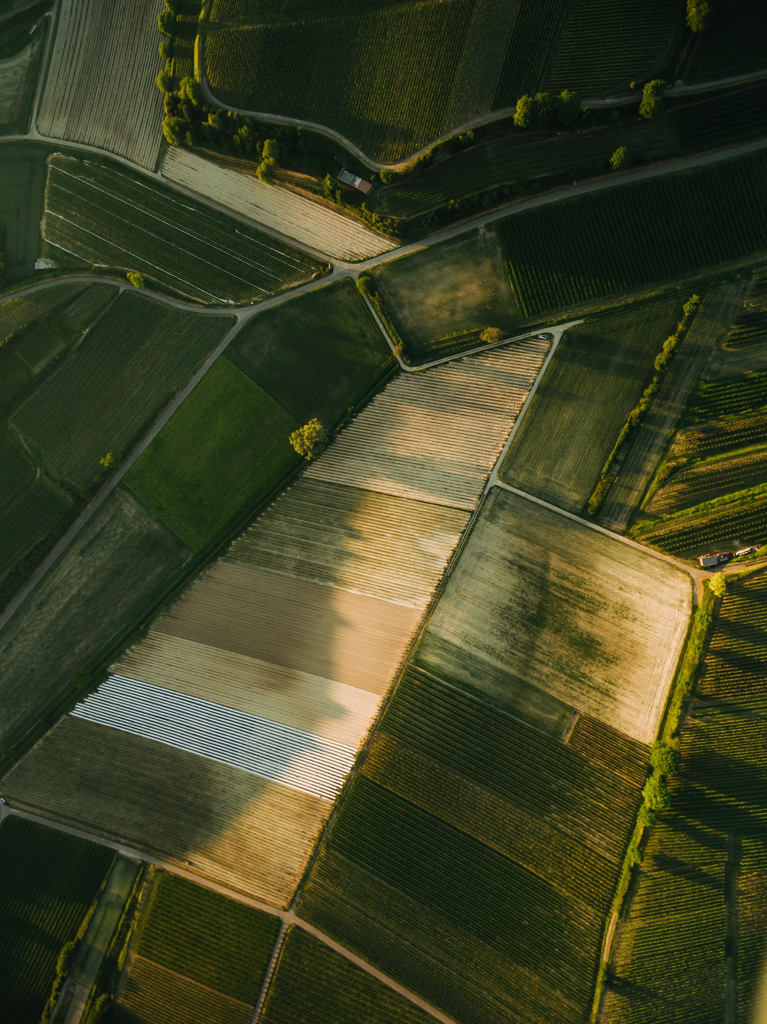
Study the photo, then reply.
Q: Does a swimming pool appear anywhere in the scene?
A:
No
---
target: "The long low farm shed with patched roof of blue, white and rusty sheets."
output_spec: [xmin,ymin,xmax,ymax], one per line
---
[338,167,374,197]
